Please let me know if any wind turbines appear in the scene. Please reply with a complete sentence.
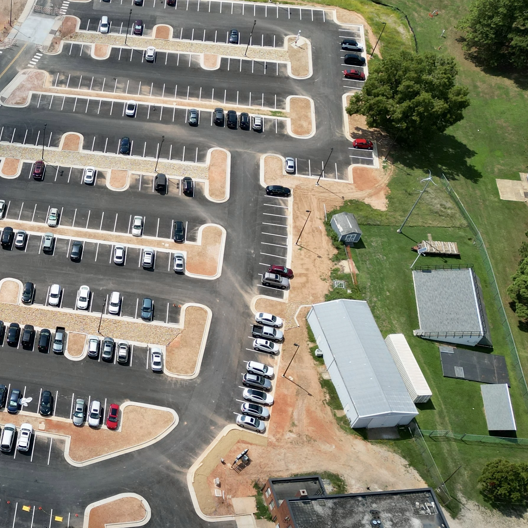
Yes, this view includes a wind turbine.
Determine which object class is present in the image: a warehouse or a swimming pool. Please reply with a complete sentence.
Of the two, only a warehouse appears.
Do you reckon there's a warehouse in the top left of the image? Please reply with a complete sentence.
No, no warehouse appears in the top left of the image.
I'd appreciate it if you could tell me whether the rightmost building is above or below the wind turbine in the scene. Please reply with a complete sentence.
The rightmost building is located below the wind turbine in this view.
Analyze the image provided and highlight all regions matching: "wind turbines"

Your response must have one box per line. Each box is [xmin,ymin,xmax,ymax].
[395,178,436,234]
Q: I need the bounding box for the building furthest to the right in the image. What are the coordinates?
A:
[411,265,492,347]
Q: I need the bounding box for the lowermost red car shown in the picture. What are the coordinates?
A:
[106,404,120,430]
